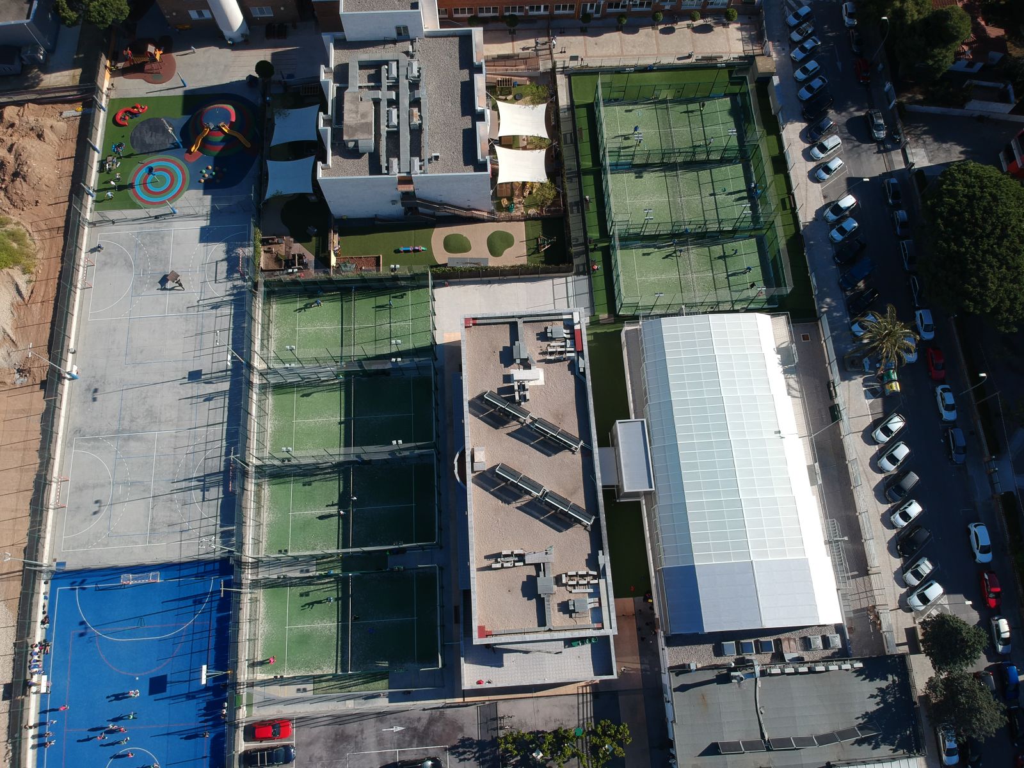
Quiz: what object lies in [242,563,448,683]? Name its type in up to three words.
sports court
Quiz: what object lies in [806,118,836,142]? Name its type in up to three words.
car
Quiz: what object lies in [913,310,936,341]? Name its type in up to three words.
car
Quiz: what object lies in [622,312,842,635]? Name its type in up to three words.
building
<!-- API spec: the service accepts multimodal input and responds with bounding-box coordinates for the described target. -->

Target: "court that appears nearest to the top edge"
[593,66,764,165]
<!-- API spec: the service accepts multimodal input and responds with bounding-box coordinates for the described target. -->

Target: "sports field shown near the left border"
[30,556,242,768]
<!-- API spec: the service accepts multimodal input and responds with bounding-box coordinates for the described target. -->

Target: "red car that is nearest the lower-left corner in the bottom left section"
[249,718,295,741]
